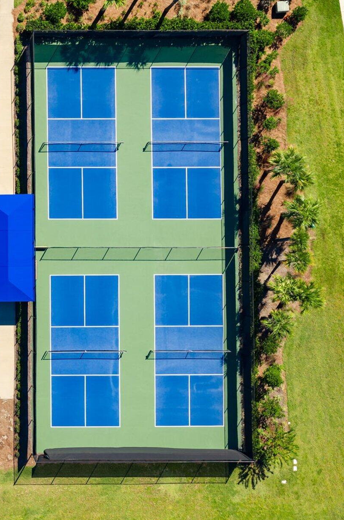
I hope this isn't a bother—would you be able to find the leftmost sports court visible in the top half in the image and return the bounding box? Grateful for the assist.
[33,38,136,247]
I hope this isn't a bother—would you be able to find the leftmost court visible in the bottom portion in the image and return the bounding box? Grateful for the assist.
[34,248,137,453]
